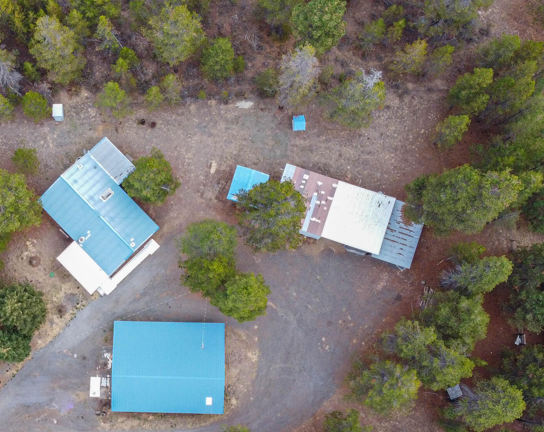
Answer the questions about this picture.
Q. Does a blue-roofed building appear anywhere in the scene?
Yes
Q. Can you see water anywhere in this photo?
No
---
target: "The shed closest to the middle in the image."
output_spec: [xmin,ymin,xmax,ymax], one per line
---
[228,165,270,206]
